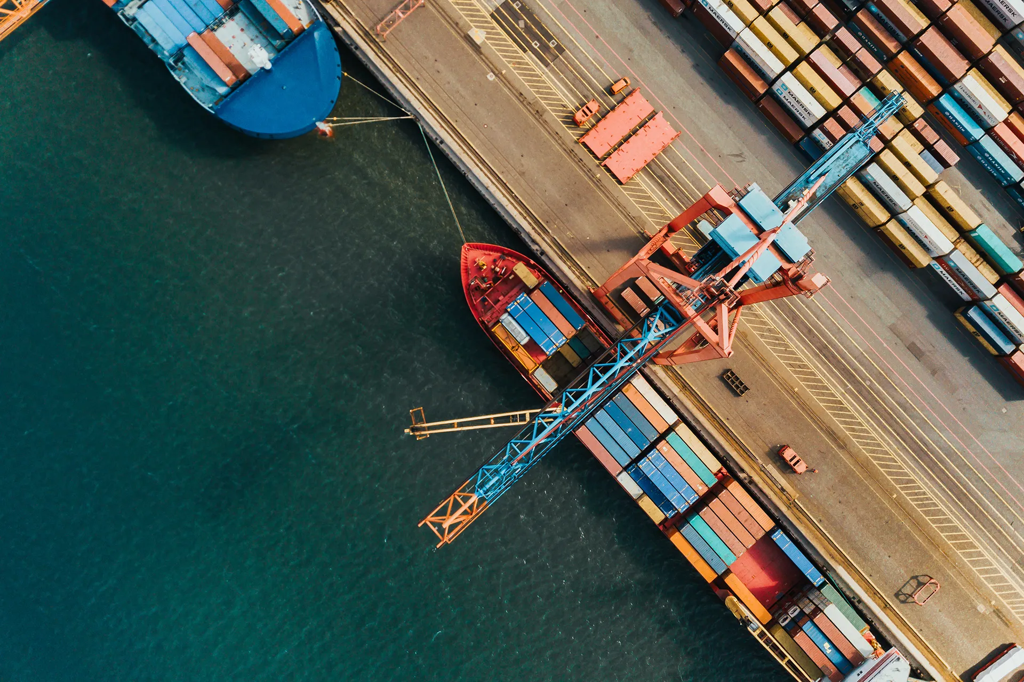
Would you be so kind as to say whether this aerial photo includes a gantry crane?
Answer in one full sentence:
Yes, you can see a gantry crane in this photo.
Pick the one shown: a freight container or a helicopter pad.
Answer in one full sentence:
There is a freight container in the scene.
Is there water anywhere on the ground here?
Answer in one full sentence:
Yes, water shows up in the scene.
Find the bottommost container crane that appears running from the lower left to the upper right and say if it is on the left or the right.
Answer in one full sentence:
The bottommost container crane that appears running from the lower left to the upper right sits on the right side.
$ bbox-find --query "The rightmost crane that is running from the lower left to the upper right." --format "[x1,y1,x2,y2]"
[418,91,918,551]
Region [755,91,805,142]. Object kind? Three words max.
shipping container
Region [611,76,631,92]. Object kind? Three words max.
vehicle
